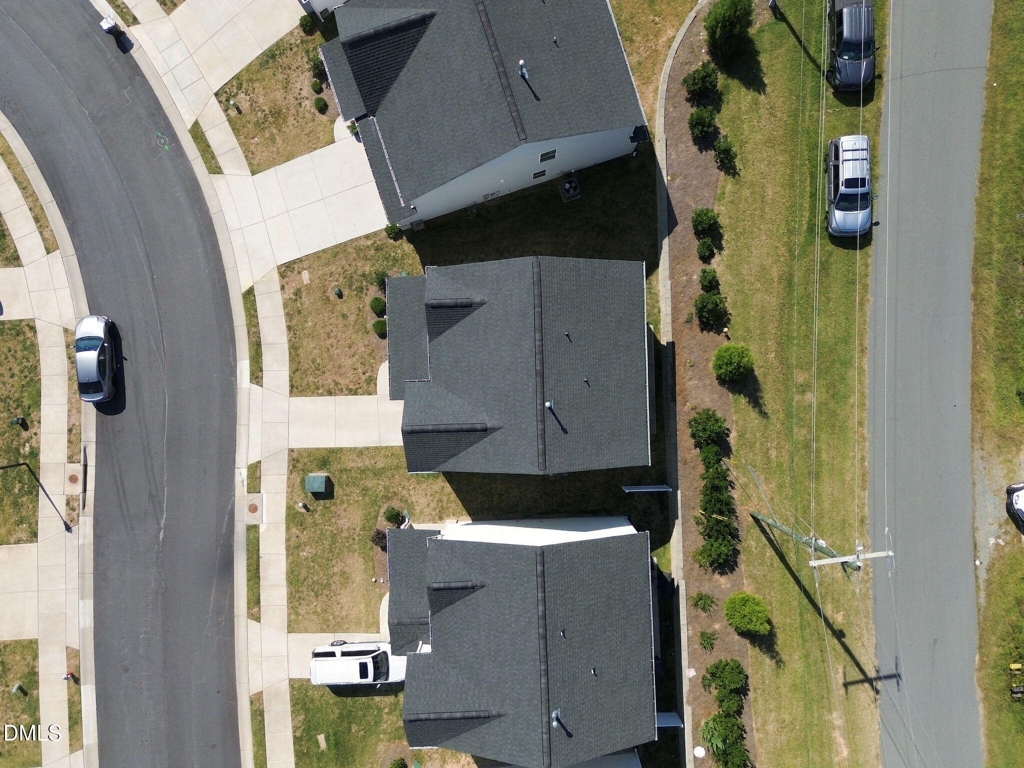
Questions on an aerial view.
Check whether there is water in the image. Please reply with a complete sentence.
No, the picture contains no water.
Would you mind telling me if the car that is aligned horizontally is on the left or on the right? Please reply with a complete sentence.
It is on the left.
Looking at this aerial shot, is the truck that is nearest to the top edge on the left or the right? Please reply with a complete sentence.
It is on the right.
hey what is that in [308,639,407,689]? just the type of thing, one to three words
car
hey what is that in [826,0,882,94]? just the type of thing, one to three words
truck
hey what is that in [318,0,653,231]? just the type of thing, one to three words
house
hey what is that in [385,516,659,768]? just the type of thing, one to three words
house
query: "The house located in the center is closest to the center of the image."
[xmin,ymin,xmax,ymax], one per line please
[384,256,654,476]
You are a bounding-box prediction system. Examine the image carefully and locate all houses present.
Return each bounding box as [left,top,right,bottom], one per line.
[318,0,653,231]
[384,256,654,476]
[385,516,659,768]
